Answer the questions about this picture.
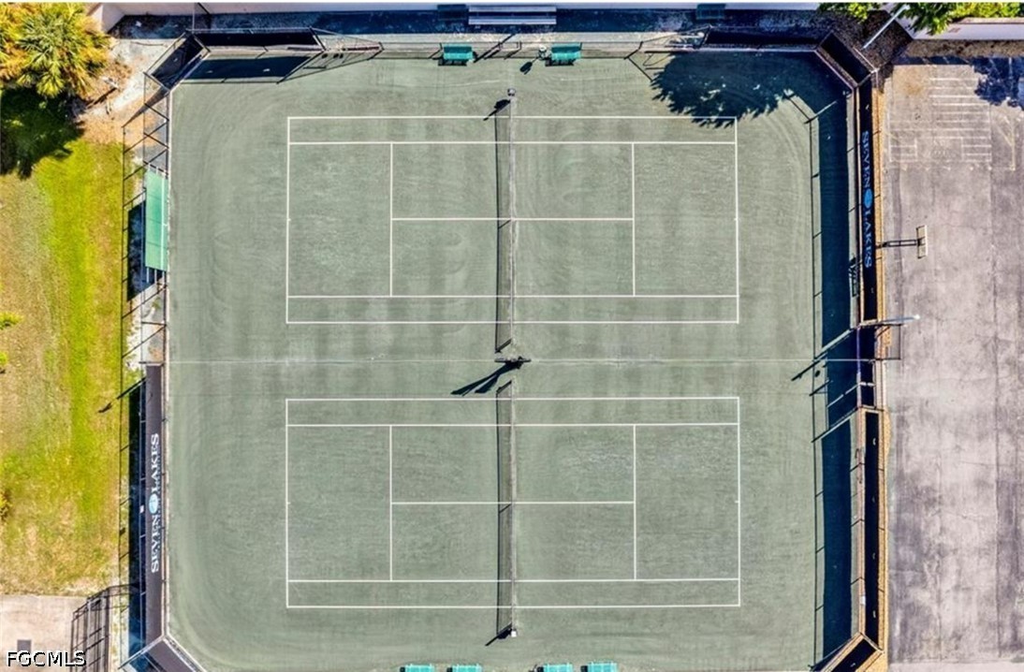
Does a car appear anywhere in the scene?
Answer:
No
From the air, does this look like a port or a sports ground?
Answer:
sports ground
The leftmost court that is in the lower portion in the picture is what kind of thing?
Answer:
tennis court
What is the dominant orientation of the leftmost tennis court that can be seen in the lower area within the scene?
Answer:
horizontally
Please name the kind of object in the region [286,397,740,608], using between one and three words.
tennis court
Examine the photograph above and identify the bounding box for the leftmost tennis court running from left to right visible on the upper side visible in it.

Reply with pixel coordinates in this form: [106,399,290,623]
[286,116,739,324]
